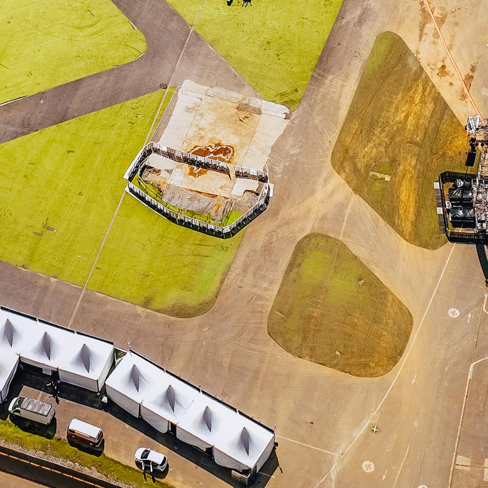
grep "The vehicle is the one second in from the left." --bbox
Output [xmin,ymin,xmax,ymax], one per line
[65,418,107,449]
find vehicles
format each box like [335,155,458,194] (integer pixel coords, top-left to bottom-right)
[132,450,172,478]
[11,398,60,427]
[65,418,107,449]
